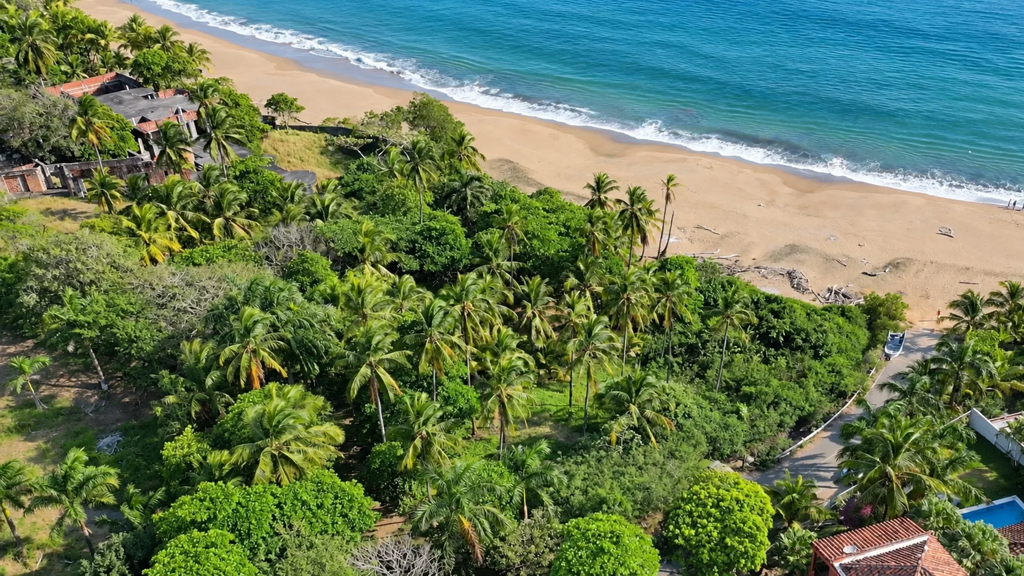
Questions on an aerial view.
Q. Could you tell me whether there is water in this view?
Yes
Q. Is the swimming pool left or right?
right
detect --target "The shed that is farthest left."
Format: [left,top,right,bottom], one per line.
[0,158,59,194]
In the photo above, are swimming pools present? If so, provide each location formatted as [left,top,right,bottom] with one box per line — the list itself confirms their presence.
[963,493,1024,536]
